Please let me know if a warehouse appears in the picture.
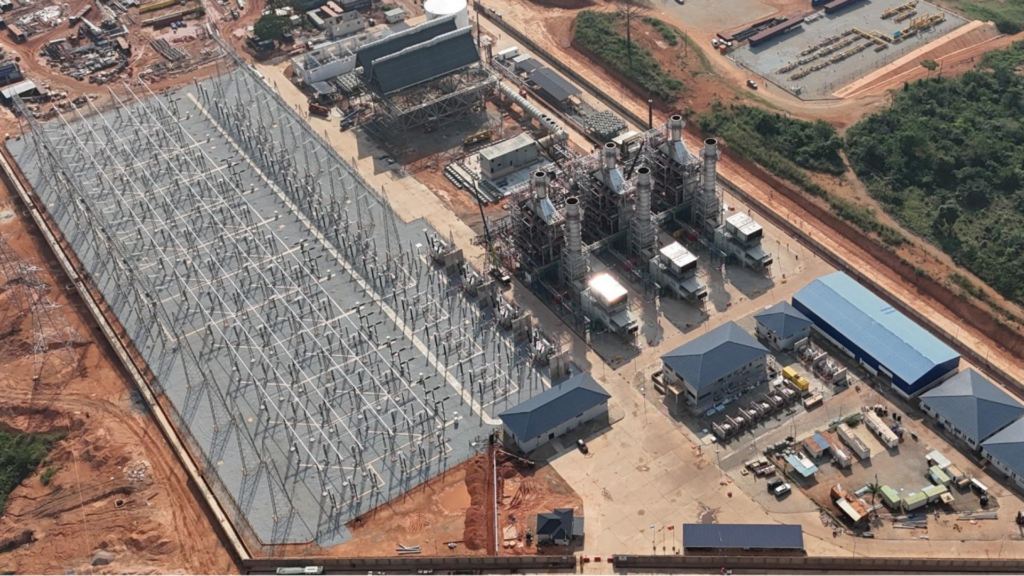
Yes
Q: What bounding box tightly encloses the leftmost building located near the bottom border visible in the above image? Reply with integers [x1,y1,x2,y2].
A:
[533,508,588,548]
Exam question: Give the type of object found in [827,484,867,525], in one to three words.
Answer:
building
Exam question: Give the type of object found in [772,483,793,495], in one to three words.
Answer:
vehicle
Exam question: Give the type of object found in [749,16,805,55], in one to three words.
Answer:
shed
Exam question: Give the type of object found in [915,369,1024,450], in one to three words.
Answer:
house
